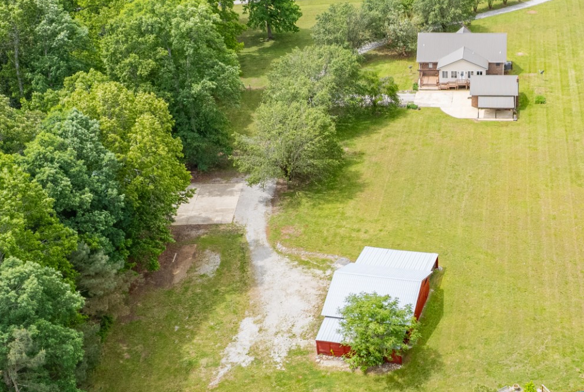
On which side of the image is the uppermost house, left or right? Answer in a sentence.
The uppermost house appears in the right half of the scene.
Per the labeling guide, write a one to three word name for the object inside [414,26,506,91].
house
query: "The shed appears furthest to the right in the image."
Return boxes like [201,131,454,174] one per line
[470,75,518,121]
